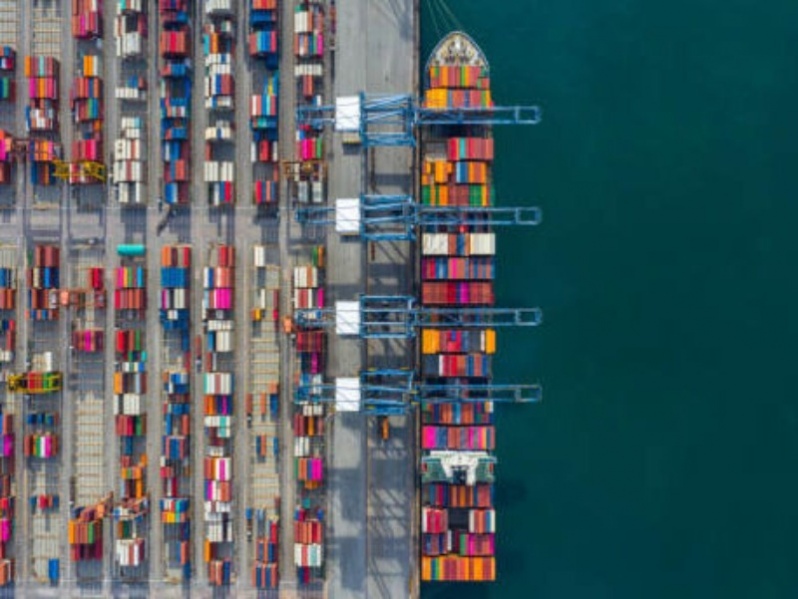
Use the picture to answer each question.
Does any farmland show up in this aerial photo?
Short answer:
No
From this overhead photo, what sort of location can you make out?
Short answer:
port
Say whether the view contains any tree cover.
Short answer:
No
